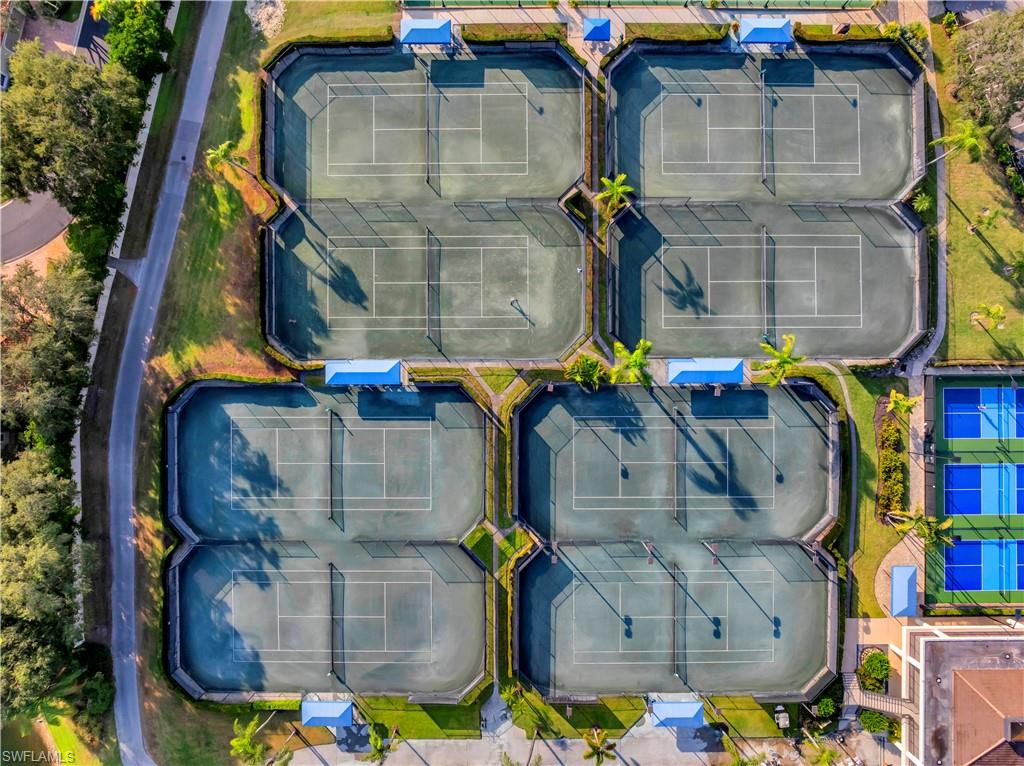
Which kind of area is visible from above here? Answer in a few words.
sports ground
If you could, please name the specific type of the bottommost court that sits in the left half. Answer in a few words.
tennis court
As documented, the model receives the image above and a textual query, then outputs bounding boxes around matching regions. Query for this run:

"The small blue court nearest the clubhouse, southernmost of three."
[944,536,1024,596]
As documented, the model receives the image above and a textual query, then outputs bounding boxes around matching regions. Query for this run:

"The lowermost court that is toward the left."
[177,542,483,693]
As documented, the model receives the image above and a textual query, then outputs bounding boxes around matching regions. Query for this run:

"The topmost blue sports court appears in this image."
[944,384,1024,443]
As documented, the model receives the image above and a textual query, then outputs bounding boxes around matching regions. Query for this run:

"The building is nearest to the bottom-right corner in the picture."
[887,616,1024,766]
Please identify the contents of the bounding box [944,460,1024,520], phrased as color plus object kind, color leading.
blue sports court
